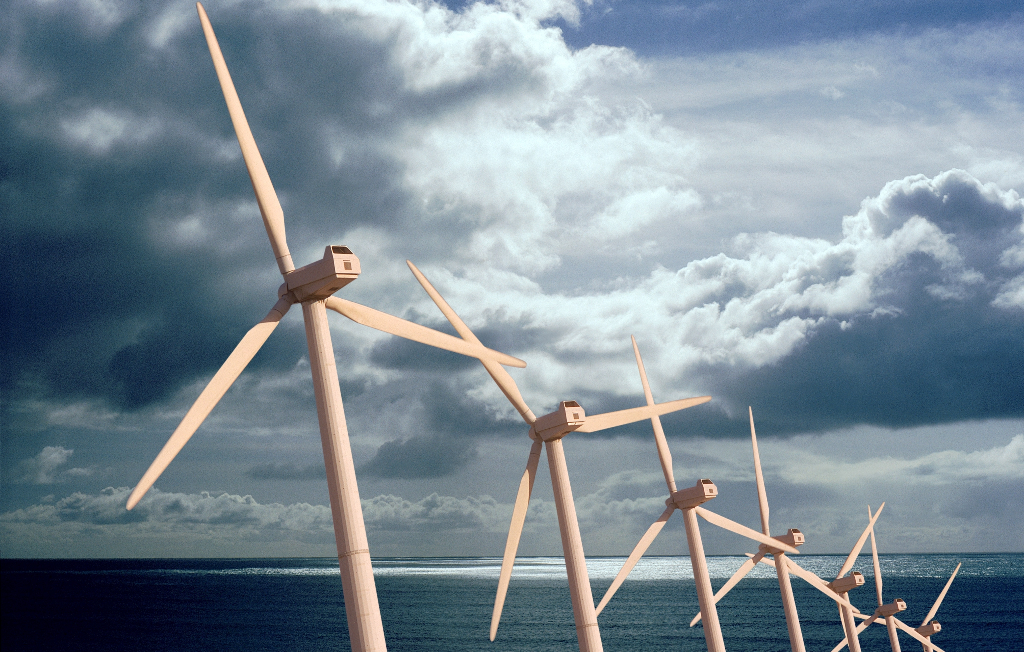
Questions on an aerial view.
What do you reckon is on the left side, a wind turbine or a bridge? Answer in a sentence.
Looking on the left side, you will find a wind turbine.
